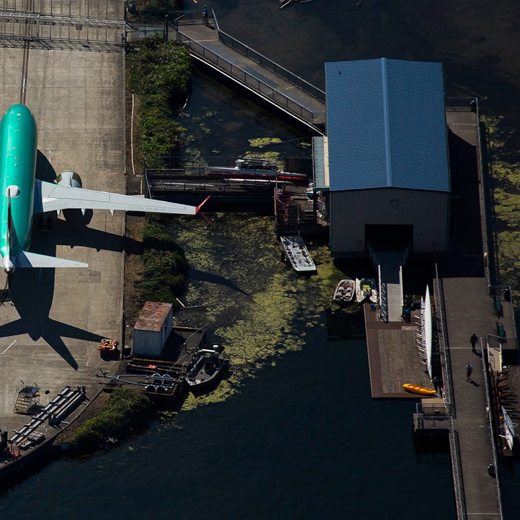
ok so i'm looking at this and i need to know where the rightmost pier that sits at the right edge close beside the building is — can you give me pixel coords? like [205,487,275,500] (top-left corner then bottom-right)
[436,106,518,520]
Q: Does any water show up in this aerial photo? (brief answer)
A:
Yes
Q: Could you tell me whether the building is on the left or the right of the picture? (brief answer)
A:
right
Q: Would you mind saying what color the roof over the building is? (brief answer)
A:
blue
